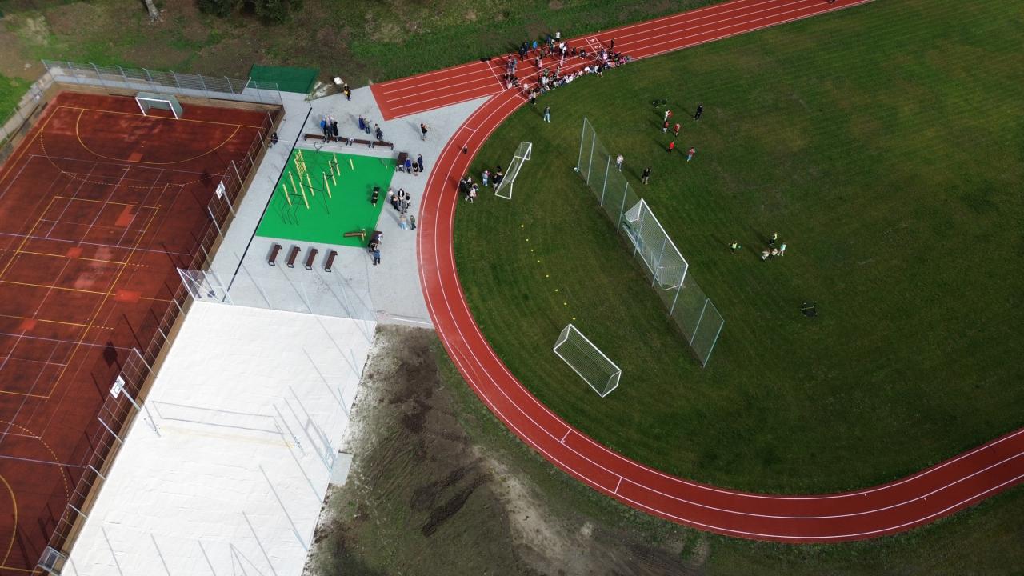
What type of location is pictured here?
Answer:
sports ground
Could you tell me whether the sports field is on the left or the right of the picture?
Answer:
right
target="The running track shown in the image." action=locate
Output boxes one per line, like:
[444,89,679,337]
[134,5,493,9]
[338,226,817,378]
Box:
[370,0,1024,545]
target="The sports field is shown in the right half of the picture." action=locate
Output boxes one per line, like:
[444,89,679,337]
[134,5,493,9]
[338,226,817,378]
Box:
[453,0,1024,496]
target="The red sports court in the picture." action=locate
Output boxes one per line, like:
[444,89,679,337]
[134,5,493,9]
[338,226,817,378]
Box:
[0,91,278,576]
